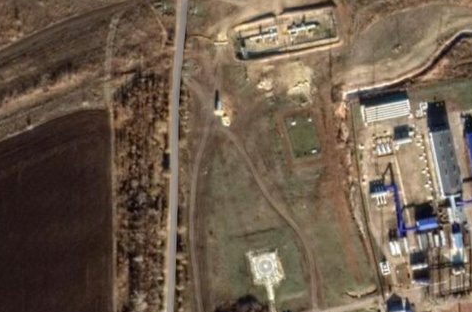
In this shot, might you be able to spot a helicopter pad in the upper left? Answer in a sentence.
No, no helicopter pad is visible in the upper left.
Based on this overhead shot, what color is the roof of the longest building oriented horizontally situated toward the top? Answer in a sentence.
The color of the roof on the longest building oriented horizontally situated toward the top is white.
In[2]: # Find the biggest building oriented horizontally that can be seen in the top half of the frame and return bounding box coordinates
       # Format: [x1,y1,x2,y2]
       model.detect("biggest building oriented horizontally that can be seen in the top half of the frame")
[365,101,410,120]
